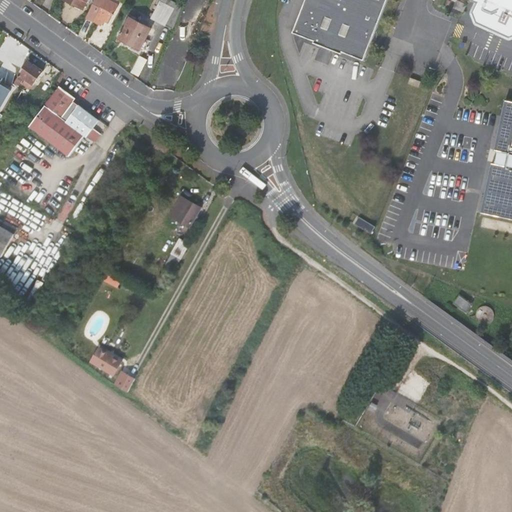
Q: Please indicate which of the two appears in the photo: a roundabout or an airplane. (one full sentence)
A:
It is a roundabout that can be seen here.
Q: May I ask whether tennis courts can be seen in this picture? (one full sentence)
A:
No, I find no tennis court anywhere in the image.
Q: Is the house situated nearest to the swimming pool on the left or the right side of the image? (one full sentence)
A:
You can find the house situated nearest to the swimming pool on the left side of the picture.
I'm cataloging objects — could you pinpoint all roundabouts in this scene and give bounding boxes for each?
[185,74,283,174]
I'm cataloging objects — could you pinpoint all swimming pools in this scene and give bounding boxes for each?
[85,310,110,342]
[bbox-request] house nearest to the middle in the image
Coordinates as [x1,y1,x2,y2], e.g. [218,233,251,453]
[169,196,202,234]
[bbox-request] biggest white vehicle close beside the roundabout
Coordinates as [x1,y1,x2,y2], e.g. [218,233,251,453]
[238,167,265,190]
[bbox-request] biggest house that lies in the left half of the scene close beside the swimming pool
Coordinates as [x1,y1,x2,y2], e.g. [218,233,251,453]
[90,348,122,376]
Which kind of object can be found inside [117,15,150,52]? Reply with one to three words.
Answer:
house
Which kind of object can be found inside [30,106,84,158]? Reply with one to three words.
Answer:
building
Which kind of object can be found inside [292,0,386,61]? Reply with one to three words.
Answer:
building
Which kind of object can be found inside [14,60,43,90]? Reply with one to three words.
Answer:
house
